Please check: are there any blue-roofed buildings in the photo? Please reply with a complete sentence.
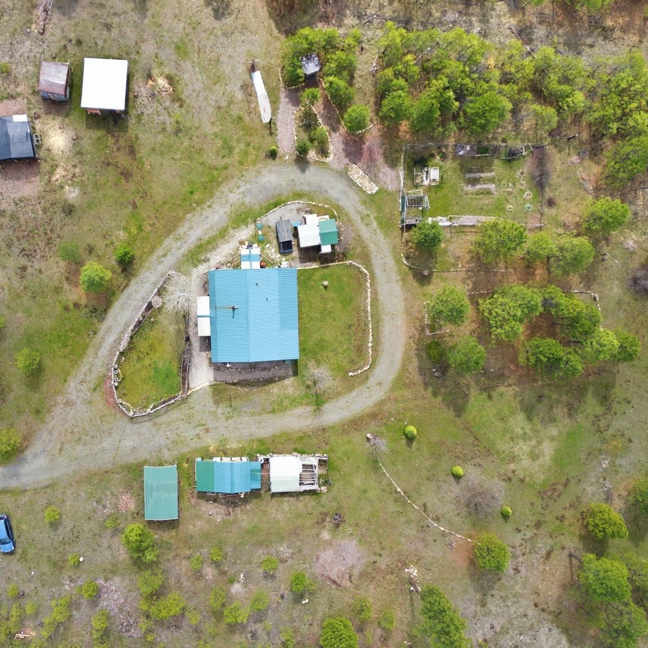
Yes, there is a blue-roofed building in the image.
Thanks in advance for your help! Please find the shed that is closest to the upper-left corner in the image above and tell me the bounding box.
[37,55,77,105]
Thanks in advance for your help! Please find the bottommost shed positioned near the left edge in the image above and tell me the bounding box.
[0,116,39,165]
